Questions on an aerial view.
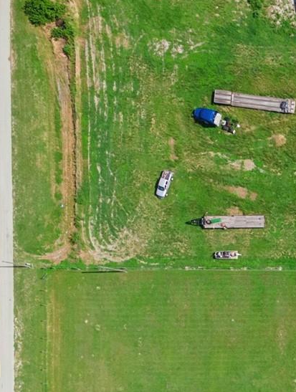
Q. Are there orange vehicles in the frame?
No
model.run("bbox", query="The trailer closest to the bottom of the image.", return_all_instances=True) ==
[188,216,265,228]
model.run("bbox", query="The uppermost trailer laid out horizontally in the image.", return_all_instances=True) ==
[214,90,296,113]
